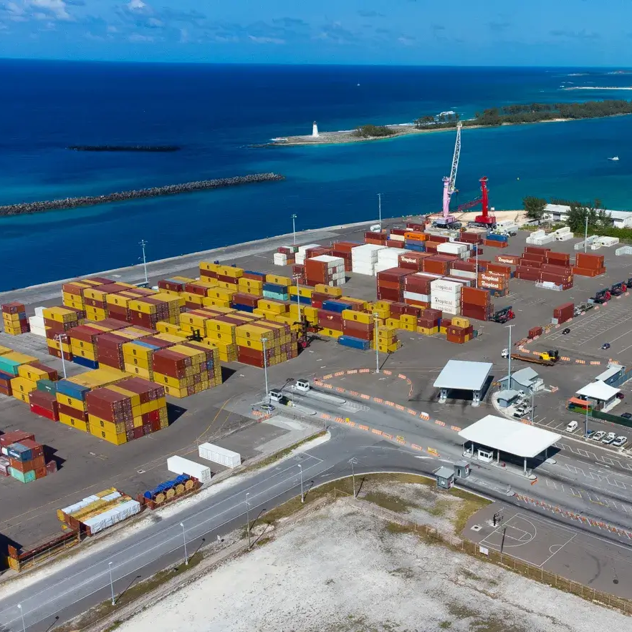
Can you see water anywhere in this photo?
Yes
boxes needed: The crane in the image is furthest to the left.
[430,121,462,228]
